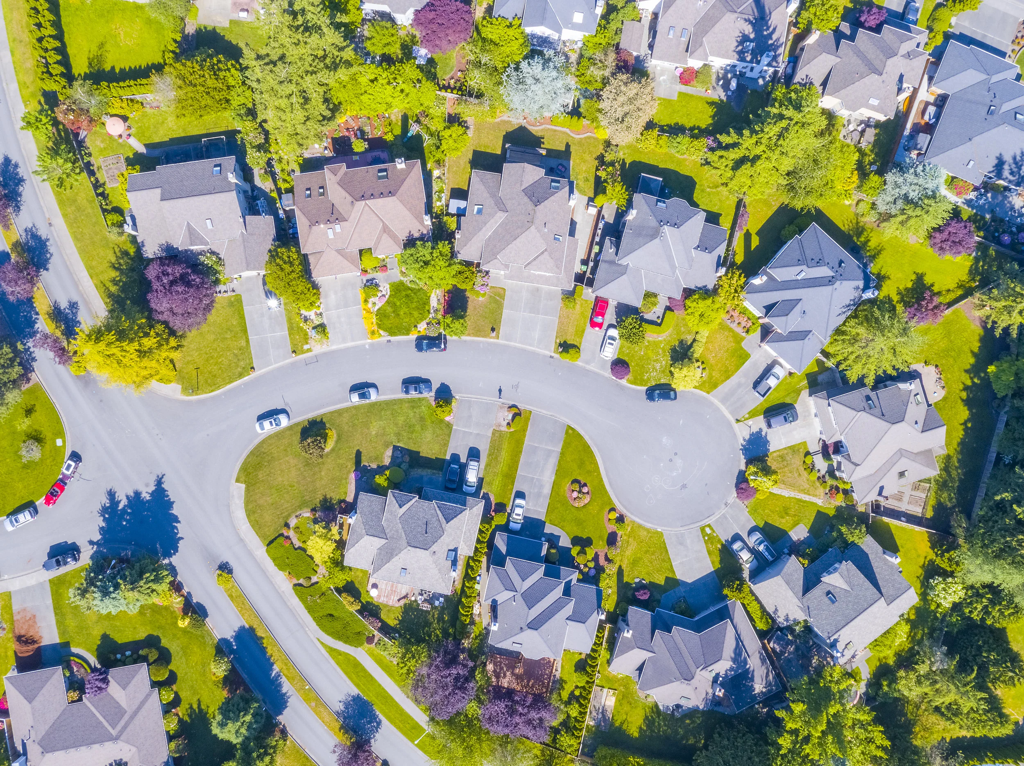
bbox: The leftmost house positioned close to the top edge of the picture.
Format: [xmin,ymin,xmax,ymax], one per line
[359,0,427,28]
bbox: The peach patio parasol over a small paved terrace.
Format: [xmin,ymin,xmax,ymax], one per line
[106,117,126,136]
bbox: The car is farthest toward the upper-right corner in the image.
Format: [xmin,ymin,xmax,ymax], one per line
[902,0,922,26]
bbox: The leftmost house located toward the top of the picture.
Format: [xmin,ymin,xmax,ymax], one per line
[122,156,280,277]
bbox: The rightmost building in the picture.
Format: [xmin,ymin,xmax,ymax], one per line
[924,39,1024,181]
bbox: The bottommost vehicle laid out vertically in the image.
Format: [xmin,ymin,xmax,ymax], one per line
[509,498,527,531]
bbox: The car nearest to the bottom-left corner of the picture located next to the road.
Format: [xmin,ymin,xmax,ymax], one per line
[41,549,81,573]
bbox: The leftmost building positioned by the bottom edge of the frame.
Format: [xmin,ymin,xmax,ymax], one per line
[3,661,180,766]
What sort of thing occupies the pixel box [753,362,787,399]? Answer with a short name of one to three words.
truck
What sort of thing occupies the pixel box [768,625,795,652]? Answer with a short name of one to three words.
shed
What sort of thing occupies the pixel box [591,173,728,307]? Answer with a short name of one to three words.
house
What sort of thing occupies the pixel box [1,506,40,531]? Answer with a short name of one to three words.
car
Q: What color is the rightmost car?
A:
blue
